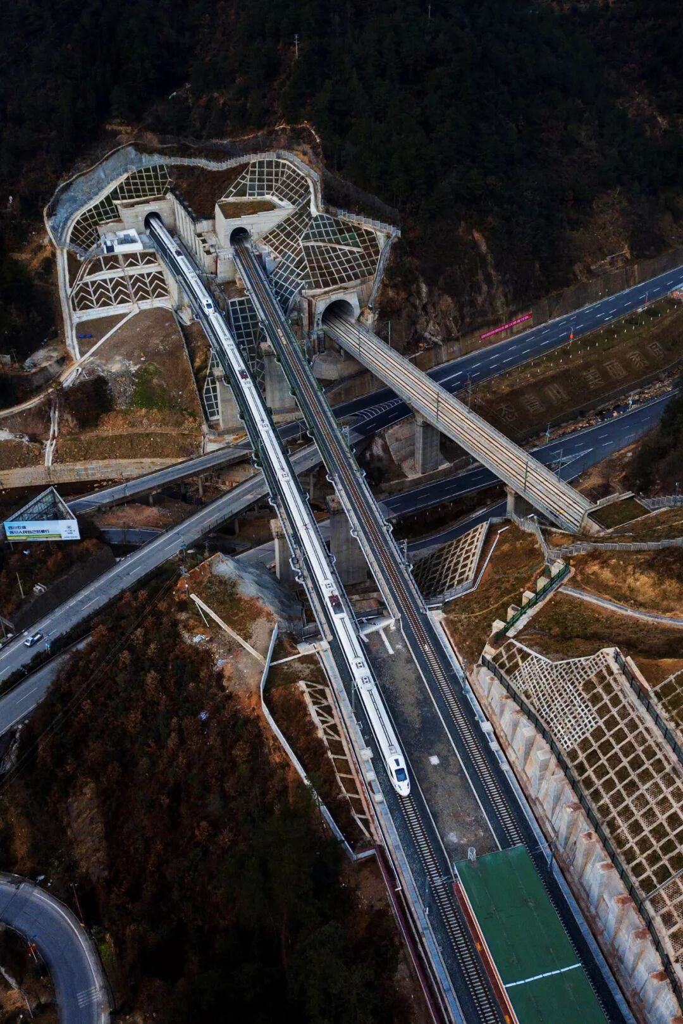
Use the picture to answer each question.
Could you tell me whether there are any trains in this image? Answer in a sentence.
Yes, a train is visible in the scene.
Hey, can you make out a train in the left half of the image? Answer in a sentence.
Yes, a train is visible in the left half of the image.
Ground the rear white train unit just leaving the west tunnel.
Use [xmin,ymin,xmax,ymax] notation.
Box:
[152,219,213,313]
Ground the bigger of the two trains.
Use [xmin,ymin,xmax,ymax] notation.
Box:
[207,309,405,789]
